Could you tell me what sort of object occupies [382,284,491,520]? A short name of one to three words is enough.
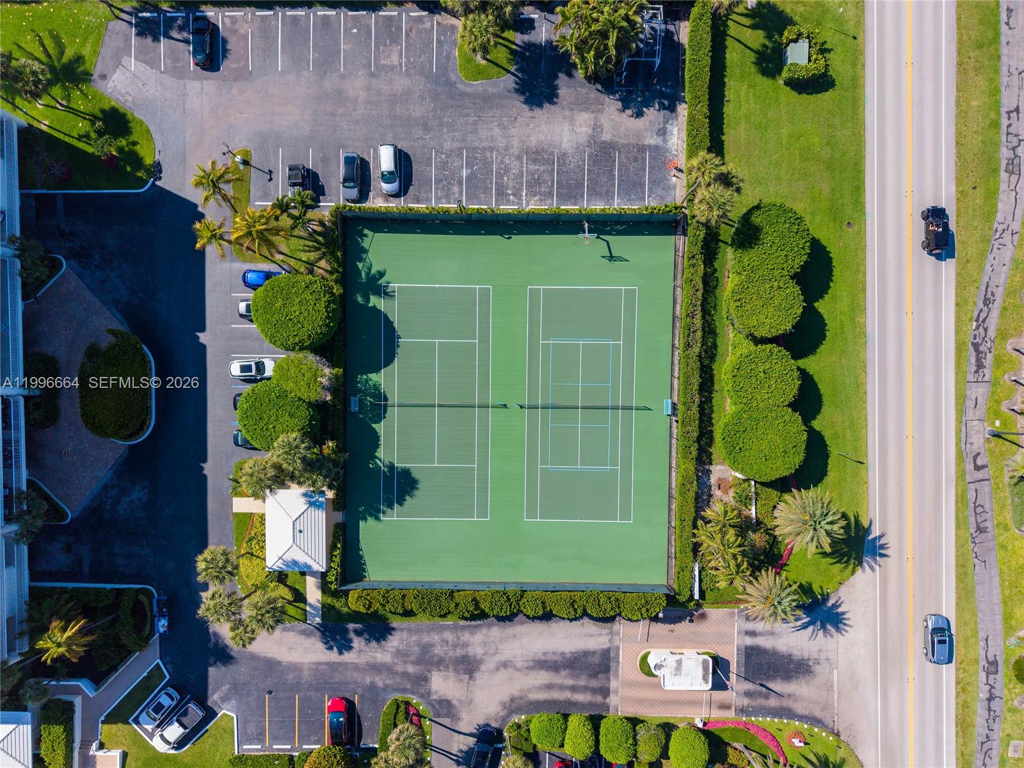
tennis court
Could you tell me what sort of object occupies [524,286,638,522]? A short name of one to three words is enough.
tennis court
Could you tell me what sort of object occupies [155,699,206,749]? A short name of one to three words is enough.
truck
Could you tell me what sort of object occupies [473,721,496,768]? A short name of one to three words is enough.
car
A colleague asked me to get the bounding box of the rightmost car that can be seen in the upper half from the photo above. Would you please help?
[921,209,951,256]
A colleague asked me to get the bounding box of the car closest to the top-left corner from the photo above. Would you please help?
[188,18,215,70]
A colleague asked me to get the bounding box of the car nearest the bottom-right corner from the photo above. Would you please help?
[923,615,951,663]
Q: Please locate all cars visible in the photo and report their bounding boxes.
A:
[923,615,951,663]
[326,697,349,746]
[376,143,400,197]
[921,209,951,256]
[241,267,283,289]
[138,686,180,729]
[232,393,241,411]
[188,18,215,70]
[286,156,311,199]
[339,152,362,204]
[473,721,496,768]
[236,301,251,320]
[233,432,259,452]
[554,753,572,768]
[230,358,274,380]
